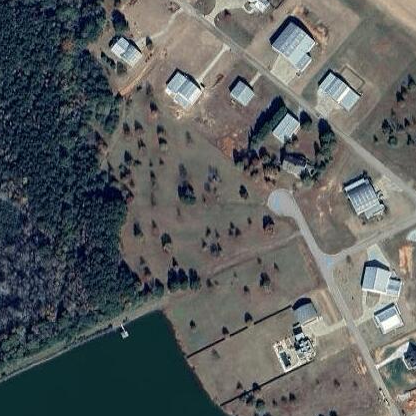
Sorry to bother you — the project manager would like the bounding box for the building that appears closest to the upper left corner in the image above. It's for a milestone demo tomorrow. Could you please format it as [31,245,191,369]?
[111,39,142,67]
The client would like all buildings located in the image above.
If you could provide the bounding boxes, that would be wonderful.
[345,180,384,218]
[295,303,316,323]
[111,39,142,67]
[167,73,202,108]
[401,345,416,369]
[272,114,299,143]
[374,304,404,333]
[271,23,314,71]
[318,73,360,112]
[282,155,313,175]
[292,323,313,356]
[362,268,401,296]
[230,83,254,105]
